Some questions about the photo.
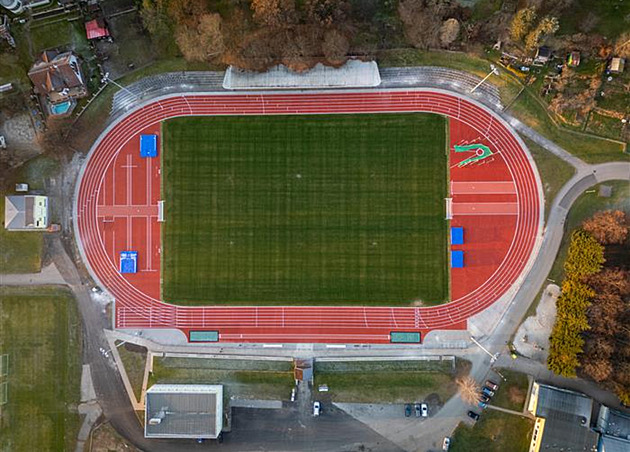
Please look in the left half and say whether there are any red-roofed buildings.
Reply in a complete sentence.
Yes, a red-roofed building shows up in the left half.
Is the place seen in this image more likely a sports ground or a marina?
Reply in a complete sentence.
The area seen from above is a sports ground.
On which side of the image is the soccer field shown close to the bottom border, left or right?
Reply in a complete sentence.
The soccer field shown close to the bottom border is on the left side of the image.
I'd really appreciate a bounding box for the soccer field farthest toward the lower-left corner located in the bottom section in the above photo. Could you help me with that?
[0,293,79,452]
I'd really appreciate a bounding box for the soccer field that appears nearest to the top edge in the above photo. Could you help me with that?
[161,113,450,306]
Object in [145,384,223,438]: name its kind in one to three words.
building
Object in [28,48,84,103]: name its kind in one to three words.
house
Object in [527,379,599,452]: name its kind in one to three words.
building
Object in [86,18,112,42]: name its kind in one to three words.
house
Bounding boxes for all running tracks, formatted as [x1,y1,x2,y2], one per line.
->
[74,88,544,344]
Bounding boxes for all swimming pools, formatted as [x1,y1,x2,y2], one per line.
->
[48,97,77,116]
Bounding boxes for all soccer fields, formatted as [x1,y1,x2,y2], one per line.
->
[0,293,79,452]
[161,113,450,306]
